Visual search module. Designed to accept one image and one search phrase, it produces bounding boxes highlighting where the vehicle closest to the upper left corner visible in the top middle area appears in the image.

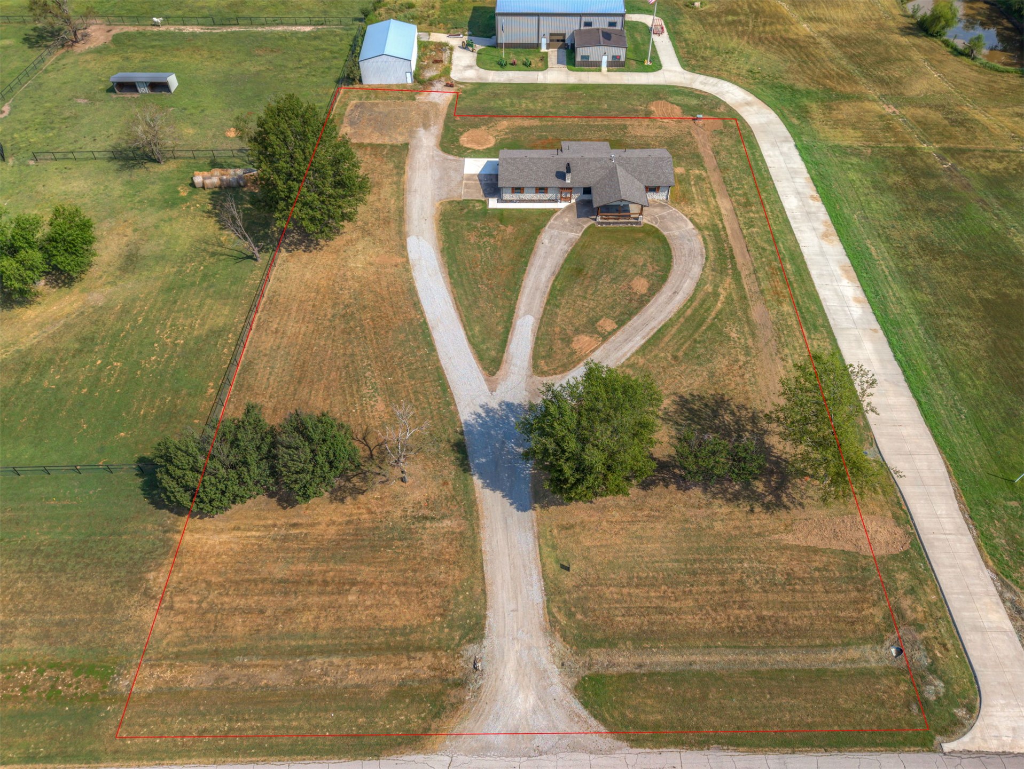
[463,34,480,51]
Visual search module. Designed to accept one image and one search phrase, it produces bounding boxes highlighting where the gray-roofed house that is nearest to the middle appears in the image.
[498,140,674,218]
